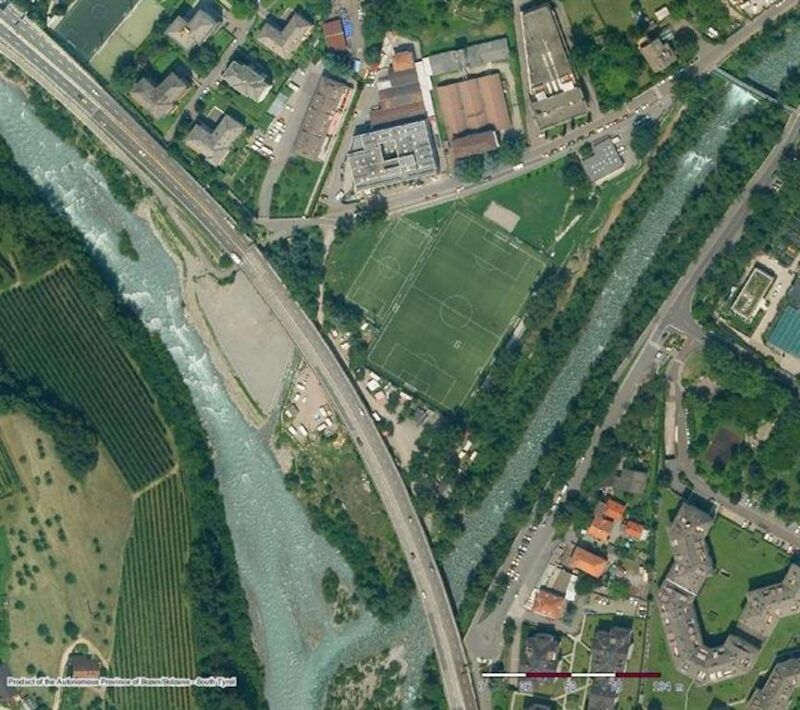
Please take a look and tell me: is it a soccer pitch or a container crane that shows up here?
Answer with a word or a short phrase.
soccer pitch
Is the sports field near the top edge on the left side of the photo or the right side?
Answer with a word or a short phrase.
left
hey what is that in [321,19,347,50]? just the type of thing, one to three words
shed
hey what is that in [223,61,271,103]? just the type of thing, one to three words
house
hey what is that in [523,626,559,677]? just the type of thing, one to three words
building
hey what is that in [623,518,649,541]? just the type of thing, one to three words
house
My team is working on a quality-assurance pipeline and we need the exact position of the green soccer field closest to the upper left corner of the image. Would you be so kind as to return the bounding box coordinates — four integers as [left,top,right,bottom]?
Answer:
[343,218,438,317]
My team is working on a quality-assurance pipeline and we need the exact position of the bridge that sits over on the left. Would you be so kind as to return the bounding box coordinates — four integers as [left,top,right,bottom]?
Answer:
[0,2,477,710]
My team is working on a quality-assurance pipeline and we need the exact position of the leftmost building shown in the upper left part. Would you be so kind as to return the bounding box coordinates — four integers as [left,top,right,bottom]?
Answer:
[129,73,187,120]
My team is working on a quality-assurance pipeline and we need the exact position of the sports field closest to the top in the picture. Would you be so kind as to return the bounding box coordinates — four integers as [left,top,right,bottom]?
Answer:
[94,0,164,78]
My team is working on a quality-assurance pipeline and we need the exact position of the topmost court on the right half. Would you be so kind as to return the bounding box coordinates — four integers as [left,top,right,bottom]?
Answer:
[484,202,520,232]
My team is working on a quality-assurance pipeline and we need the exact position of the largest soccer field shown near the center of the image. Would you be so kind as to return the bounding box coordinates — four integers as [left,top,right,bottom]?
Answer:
[364,207,550,414]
